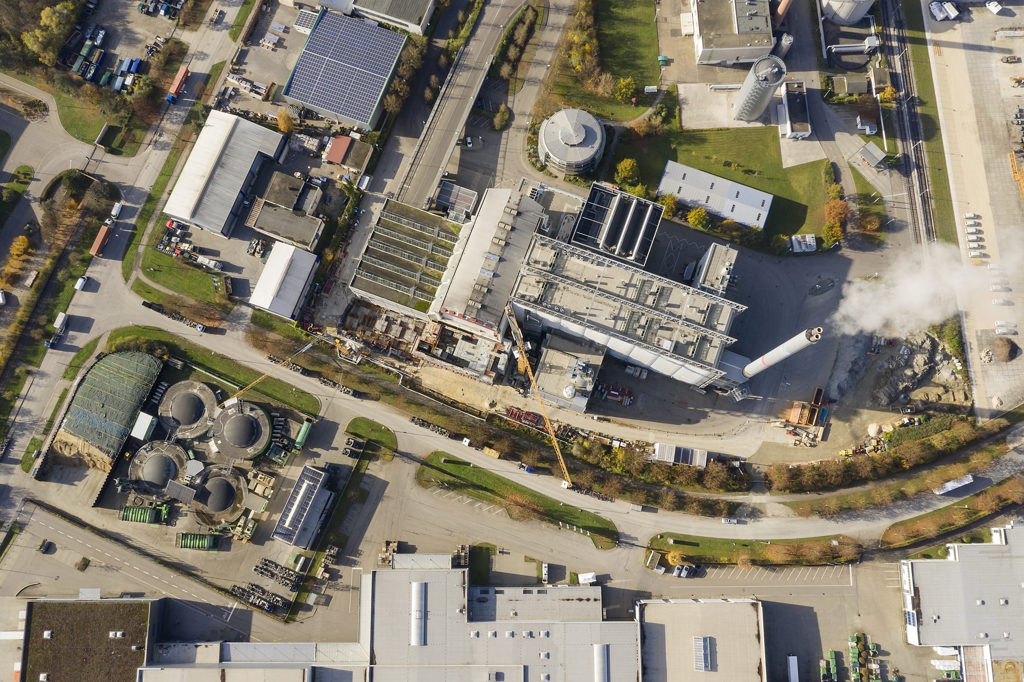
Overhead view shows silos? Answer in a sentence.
Yes, a silo is visible in the scene.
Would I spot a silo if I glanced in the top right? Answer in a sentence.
Yes, a silo is visible in the top right.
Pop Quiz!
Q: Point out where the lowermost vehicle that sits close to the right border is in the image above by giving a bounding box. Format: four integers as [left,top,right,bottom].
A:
[933,475,978,498]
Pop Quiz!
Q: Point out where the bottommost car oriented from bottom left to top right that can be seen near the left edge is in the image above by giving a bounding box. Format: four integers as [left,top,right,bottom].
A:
[39,540,51,556]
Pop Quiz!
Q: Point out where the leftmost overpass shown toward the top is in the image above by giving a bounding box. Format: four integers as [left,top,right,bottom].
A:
[394,0,524,203]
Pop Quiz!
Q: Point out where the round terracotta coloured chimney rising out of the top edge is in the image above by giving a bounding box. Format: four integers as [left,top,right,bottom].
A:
[773,0,794,37]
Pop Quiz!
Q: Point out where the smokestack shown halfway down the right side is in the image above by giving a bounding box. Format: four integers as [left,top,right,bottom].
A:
[749,329,814,379]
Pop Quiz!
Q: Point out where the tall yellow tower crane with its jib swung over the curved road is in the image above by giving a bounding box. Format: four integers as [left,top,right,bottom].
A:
[503,304,573,487]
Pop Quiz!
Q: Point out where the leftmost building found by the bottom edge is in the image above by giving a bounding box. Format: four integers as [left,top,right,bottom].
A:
[5,589,166,682]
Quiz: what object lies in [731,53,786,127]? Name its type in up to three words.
silo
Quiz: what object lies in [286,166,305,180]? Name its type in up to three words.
work vehicle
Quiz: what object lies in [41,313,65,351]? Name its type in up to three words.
truck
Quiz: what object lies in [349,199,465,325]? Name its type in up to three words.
building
